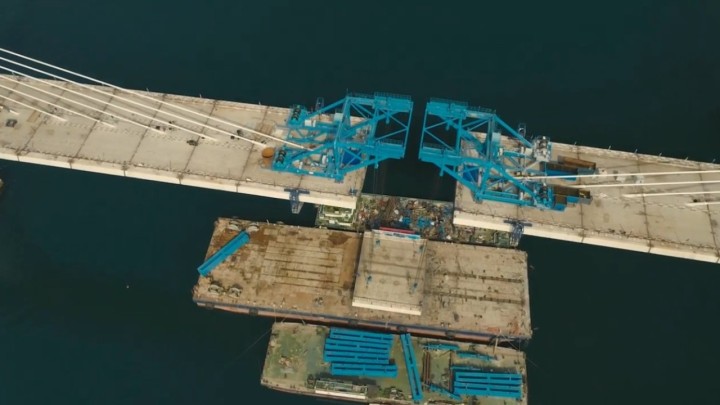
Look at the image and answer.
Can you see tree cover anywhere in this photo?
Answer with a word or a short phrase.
No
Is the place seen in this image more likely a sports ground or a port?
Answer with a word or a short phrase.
port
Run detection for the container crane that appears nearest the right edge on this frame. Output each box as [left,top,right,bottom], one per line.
[420,94,560,235]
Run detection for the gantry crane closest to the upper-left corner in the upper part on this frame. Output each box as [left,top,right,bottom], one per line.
[266,87,411,226]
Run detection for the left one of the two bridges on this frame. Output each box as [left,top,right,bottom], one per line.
[0,48,378,212]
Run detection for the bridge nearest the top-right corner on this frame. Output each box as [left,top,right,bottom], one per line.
[451,131,720,266]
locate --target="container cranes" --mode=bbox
[266,87,411,226]
[420,94,560,235]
